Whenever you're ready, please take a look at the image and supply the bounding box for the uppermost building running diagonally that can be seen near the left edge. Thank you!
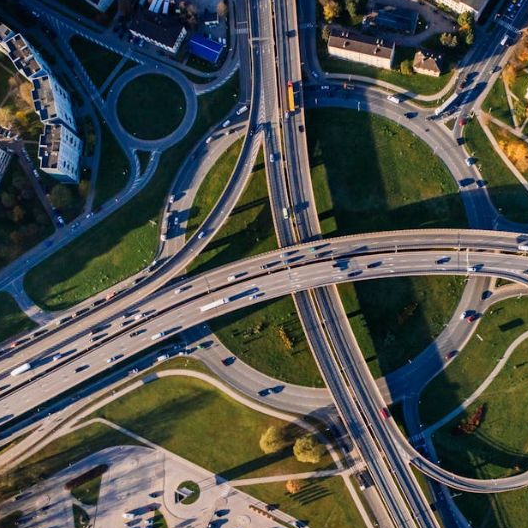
[5,33,63,84]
